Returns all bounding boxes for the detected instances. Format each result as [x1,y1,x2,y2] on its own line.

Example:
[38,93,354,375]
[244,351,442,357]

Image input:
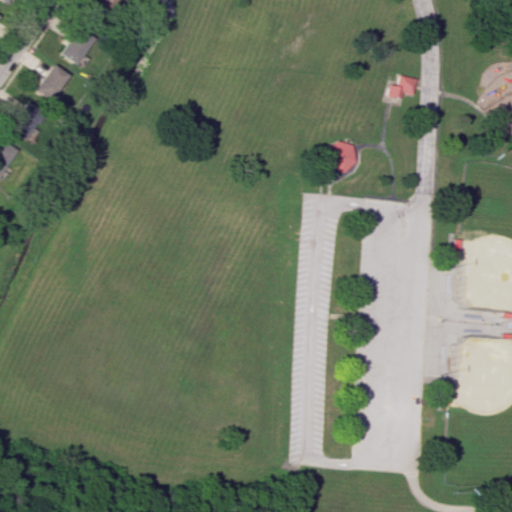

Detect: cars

[9,62,17,72]
[36,66,45,74]
[42,62,51,70]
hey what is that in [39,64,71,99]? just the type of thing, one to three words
house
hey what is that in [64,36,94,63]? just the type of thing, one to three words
house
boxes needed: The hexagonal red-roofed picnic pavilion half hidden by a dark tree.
[328,141,358,175]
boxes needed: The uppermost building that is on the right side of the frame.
[386,74,420,98]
